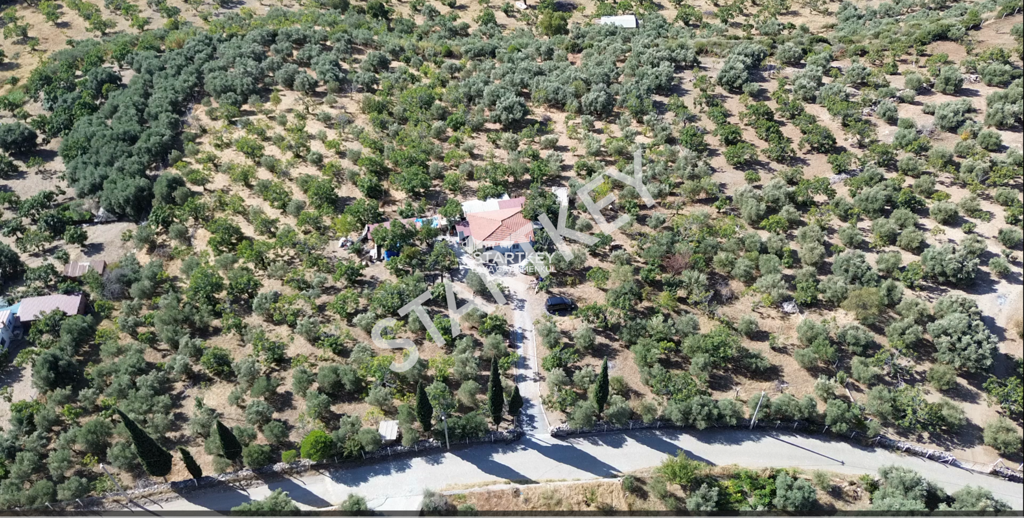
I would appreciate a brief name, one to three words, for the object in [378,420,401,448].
shed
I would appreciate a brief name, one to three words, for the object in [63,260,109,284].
building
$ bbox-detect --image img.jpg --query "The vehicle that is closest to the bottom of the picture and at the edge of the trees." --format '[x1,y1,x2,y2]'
[544,298,575,316]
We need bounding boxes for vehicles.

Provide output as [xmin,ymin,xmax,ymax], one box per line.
[544,298,575,316]
[510,258,536,276]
